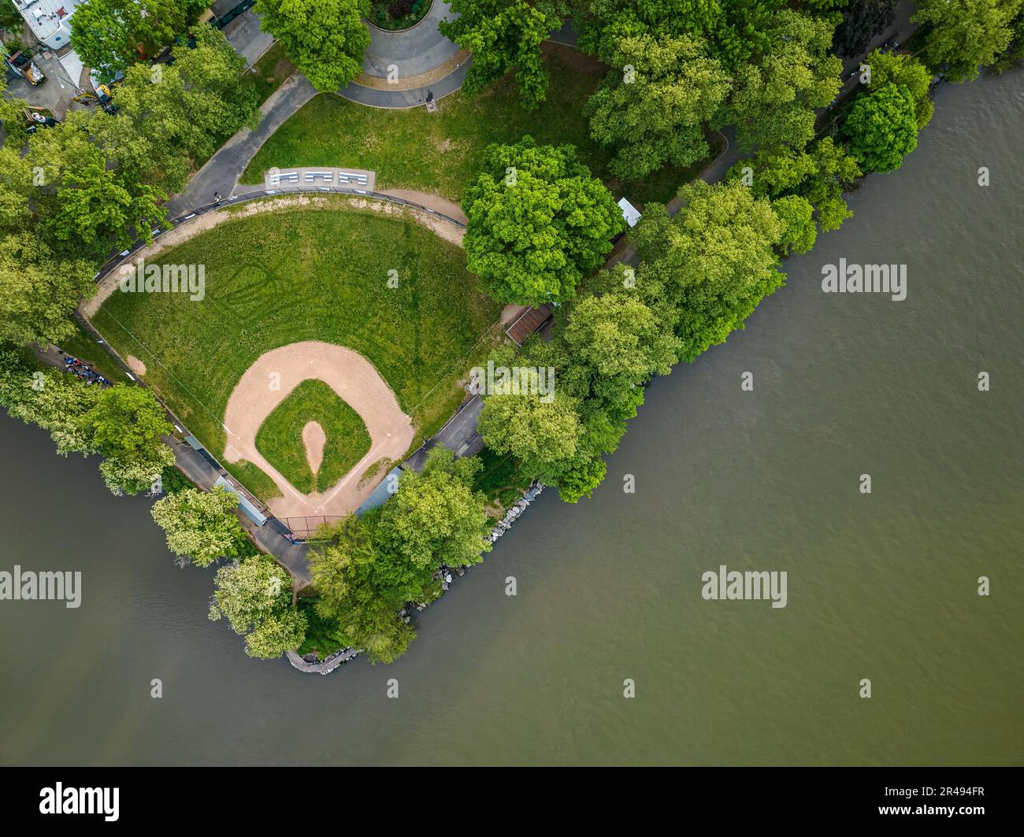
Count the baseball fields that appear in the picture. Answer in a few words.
1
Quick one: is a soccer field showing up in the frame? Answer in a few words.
No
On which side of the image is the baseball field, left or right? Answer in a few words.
left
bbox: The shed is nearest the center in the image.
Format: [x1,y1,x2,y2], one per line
[505,292,562,347]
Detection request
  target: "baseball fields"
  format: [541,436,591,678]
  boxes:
[81,194,524,538]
